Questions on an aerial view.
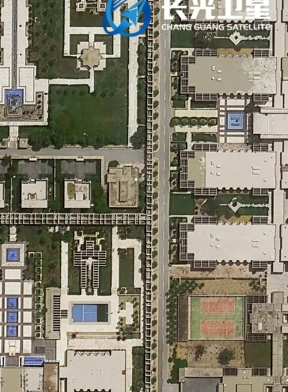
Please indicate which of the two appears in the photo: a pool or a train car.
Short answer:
pool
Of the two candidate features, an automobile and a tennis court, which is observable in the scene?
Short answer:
tennis court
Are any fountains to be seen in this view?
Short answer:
Yes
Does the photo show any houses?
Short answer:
Yes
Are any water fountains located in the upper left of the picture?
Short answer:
Yes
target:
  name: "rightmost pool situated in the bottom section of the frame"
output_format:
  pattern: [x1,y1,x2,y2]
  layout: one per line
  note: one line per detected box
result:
[69,301,111,325]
